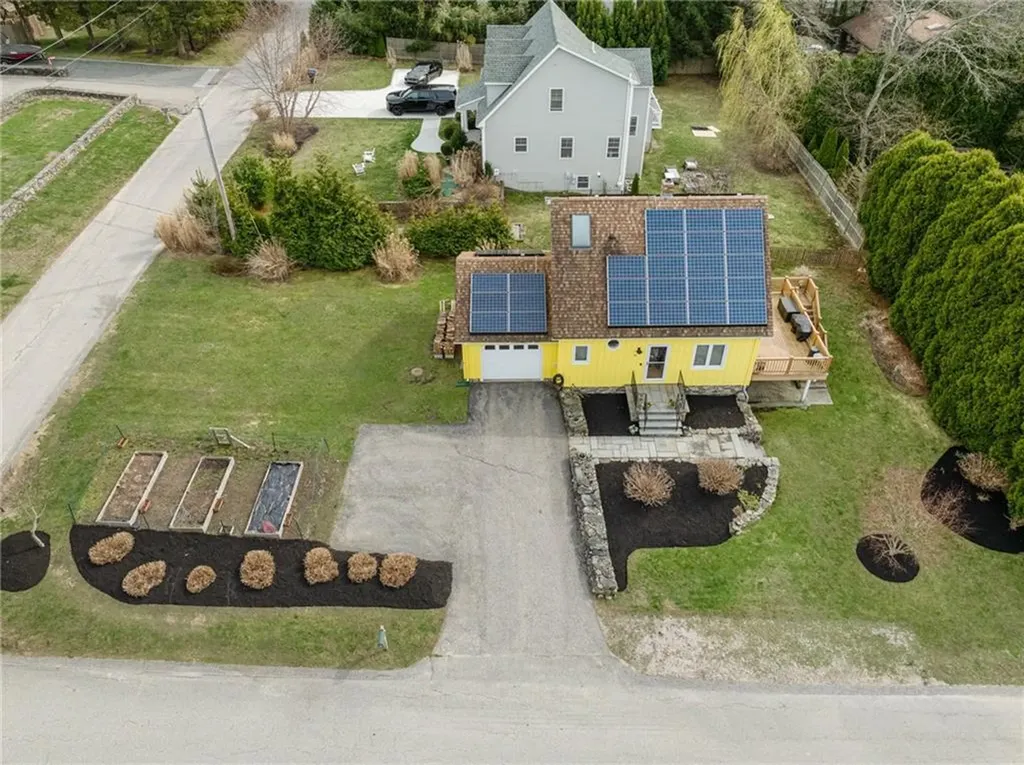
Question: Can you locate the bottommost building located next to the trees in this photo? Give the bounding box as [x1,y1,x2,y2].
[455,193,778,401]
